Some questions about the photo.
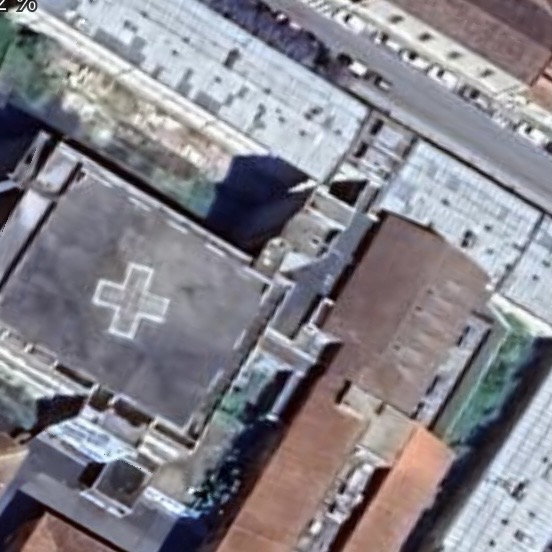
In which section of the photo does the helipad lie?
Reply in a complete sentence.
The helipad is in the left part of the image.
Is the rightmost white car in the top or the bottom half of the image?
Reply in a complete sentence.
The rightmost white car is in the top half of the image.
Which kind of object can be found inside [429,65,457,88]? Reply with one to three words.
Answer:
car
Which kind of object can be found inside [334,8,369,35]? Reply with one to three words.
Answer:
vehicle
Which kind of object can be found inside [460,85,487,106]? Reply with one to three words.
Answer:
car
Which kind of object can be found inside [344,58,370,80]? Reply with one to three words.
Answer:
vehicle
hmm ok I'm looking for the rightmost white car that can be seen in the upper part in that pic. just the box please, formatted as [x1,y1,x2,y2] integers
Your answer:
[520,120,548,142]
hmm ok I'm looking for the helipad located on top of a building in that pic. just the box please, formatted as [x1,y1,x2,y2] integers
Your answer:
[0,159,271,437]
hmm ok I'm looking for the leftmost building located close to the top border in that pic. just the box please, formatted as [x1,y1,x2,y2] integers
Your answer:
[0,0,368,192]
